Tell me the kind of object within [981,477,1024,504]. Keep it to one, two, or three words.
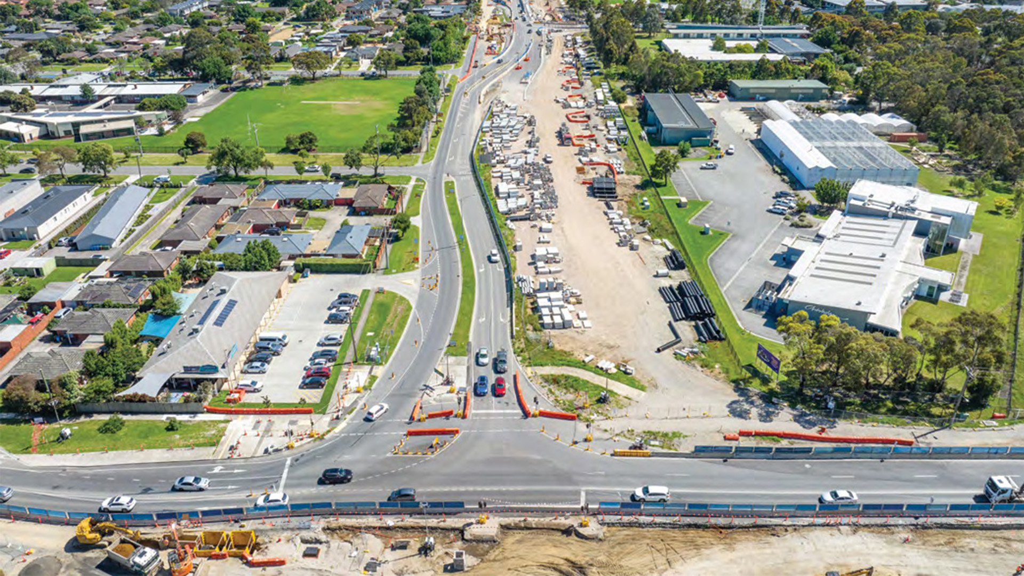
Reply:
truck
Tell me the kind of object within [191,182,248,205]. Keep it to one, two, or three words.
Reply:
house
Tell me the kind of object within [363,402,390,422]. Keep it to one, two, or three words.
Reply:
car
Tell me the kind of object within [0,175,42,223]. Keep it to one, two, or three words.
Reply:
building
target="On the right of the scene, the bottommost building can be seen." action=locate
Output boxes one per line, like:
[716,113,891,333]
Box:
[776,179,977,351]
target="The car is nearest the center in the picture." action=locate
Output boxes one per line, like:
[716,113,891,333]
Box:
[488,247,500,263]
